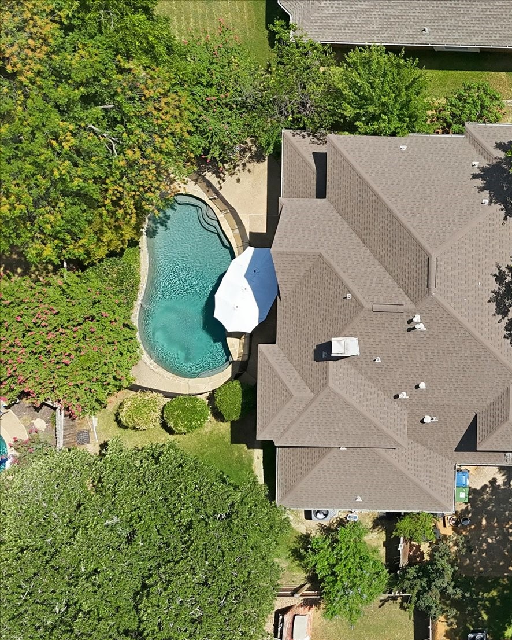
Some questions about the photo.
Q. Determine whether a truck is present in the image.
No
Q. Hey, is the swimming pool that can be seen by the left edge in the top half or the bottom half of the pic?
bottom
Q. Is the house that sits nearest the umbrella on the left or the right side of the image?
right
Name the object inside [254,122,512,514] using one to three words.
house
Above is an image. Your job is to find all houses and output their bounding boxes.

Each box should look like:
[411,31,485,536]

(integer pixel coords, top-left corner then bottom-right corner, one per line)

[280,0,512,60]
[254,122,512,514]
